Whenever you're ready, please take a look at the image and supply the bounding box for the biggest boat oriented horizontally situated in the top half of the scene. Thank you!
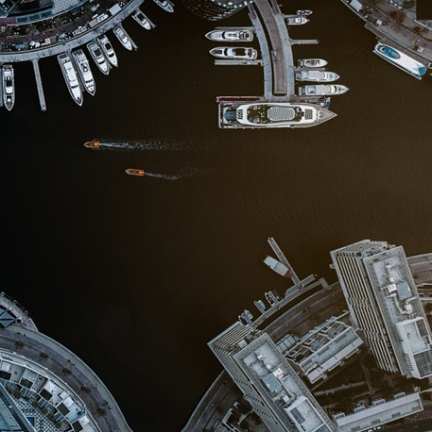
[218,102,338,127]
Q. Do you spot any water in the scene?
Yes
